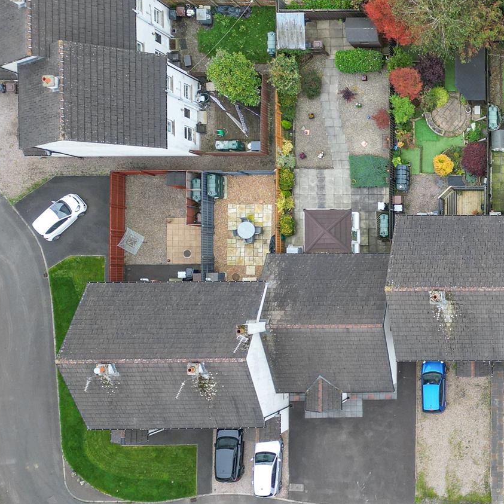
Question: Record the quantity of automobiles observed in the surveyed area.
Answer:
4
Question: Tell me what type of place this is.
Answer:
residential area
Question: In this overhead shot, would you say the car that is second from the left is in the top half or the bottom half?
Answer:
bottom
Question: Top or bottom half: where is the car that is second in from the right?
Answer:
bottom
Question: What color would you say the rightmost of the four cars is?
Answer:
blue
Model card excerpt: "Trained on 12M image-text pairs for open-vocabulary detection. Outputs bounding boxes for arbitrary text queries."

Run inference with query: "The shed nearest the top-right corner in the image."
[455,46,488,106]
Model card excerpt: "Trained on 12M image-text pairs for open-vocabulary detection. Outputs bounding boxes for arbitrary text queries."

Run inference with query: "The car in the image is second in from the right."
[252,441,286,497]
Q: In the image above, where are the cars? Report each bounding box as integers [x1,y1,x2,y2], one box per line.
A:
[419,363,447,413]
[252,441,286,497]
[30,194,94,242]
[212,431,246,484]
